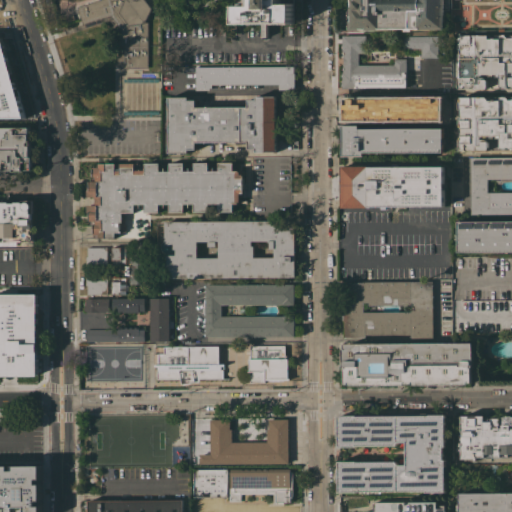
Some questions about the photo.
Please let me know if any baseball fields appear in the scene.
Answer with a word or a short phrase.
No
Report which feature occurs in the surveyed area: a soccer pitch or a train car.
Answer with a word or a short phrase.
soccer pitch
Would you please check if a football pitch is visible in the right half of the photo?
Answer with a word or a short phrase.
No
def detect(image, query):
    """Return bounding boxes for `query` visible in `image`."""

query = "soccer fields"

[91,416,179,465]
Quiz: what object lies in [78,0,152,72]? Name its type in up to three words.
building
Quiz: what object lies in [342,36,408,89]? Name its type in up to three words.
house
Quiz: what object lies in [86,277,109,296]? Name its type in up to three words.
house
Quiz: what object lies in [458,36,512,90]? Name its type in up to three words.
building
